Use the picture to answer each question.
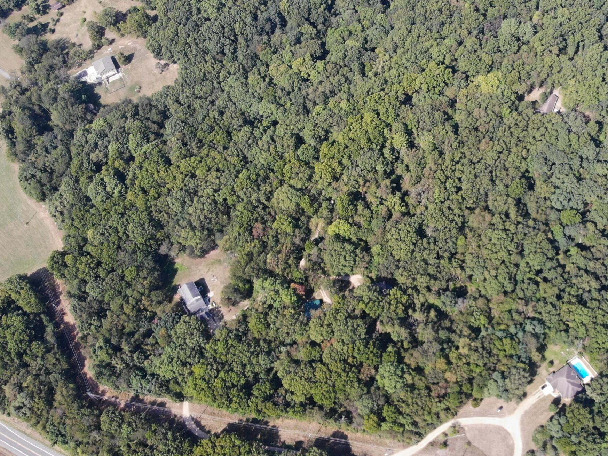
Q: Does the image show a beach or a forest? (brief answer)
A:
forest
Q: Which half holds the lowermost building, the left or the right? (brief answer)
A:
right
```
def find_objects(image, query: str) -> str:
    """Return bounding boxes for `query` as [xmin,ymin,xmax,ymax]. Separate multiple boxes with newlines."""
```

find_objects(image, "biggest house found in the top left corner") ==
[92,56,118,81]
